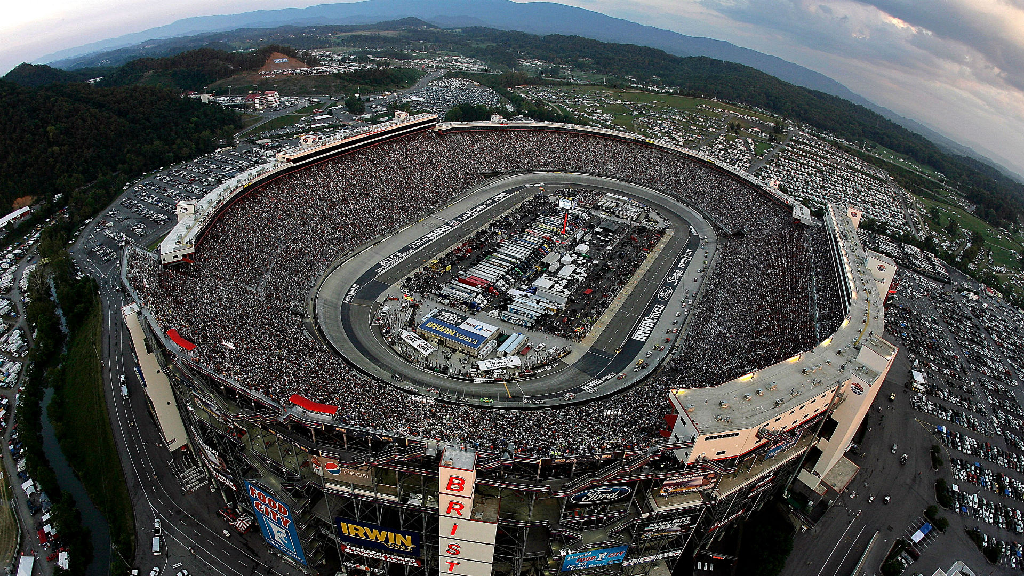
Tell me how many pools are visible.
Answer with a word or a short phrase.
0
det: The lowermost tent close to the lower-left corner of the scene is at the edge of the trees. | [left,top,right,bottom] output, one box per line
[16,556,37,576]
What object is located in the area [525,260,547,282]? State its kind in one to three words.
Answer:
truck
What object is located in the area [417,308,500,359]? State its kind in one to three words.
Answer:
building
